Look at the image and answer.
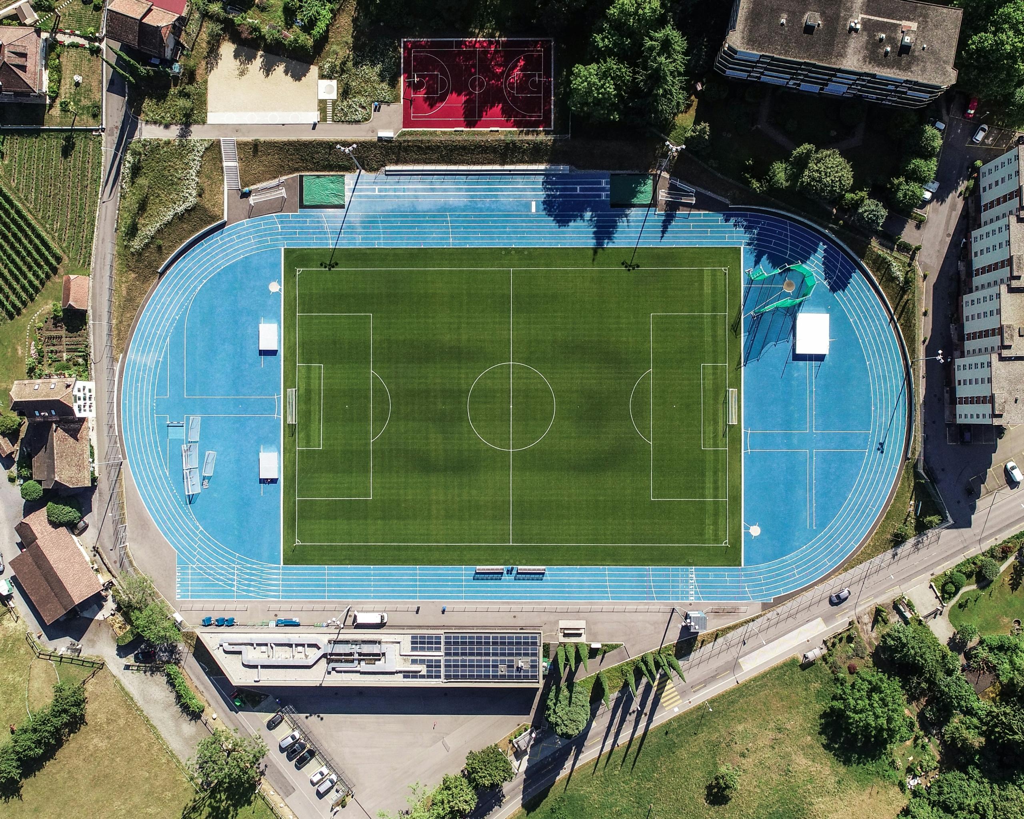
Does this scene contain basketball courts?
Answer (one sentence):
Yes, there's a basketball court down there.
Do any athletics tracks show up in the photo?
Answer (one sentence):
Yes, looking at the shot, I can spot an athletics track.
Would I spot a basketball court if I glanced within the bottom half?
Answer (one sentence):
No, no basketball court is visible within the bottom half.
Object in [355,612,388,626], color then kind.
white vehicle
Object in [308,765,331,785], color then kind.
white car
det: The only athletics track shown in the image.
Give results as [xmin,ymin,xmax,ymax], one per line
[121,172,907,602]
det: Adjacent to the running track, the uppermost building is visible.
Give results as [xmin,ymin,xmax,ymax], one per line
[707,0,963,119]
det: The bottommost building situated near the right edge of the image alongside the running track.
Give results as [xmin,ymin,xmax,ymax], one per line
[938,355,1024,425]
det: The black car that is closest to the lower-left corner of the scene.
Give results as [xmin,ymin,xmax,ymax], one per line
[135,651,155,663]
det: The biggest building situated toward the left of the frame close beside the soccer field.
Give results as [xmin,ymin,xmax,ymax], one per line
[193,626,542,687]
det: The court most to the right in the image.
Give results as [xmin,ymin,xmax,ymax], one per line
[402,38,553,130]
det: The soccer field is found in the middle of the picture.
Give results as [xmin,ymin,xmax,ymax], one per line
[283,247,742,566]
